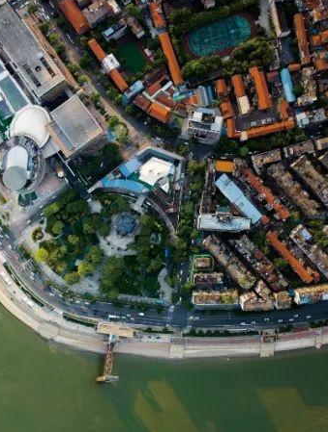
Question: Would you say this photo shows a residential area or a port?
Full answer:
This image shows a residential area.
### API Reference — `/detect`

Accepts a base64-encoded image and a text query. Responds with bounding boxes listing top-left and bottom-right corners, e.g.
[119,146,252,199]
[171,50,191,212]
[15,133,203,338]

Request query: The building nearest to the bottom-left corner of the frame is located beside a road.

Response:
[96,323,134,336]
